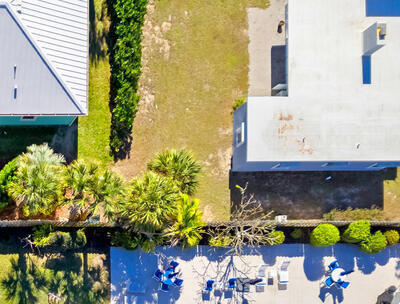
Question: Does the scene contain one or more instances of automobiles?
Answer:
No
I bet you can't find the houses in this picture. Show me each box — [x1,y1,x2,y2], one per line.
[233,0,400,170]
[0,0,90,125]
